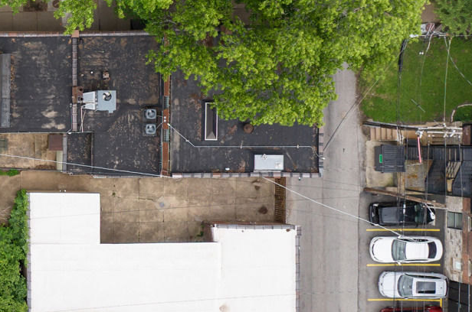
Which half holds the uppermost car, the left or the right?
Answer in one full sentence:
The uppermost car appears in the right half of the scene.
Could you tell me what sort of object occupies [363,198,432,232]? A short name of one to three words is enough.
car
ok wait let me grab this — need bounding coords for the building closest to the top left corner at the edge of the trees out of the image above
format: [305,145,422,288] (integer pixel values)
[0,35,72,135]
